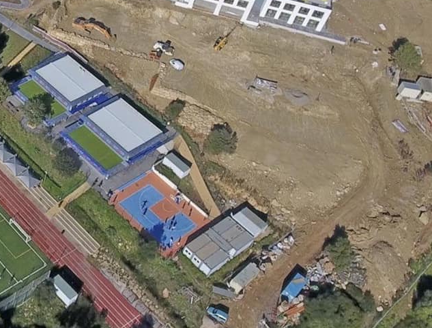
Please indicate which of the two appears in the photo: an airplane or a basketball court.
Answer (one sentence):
Visible in the photo is a basketball court.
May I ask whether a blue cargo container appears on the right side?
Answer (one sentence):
Yes, you'll find a blue cargo container on the right side.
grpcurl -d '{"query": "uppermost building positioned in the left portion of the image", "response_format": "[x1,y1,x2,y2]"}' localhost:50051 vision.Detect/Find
[29,51,111,112]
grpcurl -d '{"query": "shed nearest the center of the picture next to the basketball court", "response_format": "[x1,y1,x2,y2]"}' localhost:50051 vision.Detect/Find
[161,151,191,180]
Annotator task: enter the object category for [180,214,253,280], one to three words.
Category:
building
